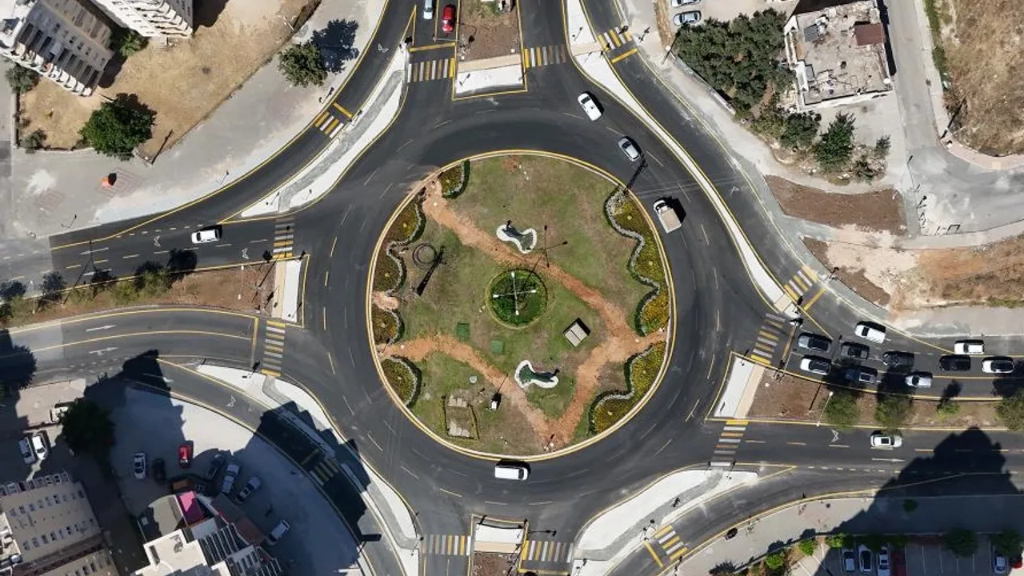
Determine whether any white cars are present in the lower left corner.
Yes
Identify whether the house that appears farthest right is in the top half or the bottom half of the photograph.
top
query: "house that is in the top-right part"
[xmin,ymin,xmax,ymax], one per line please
[777,0,894,114]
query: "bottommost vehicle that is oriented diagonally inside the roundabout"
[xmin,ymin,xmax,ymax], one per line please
[651,198,681,234]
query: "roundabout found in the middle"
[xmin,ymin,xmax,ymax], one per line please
[305,90,739,524]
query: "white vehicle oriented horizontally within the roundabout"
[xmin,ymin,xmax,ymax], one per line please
[494,464,529,480]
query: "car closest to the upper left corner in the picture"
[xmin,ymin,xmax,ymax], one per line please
[192,228,222,243]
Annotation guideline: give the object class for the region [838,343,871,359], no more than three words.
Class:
car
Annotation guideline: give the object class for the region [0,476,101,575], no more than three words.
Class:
building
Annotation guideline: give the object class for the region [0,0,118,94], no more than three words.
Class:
building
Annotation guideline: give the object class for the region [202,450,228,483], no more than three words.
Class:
car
